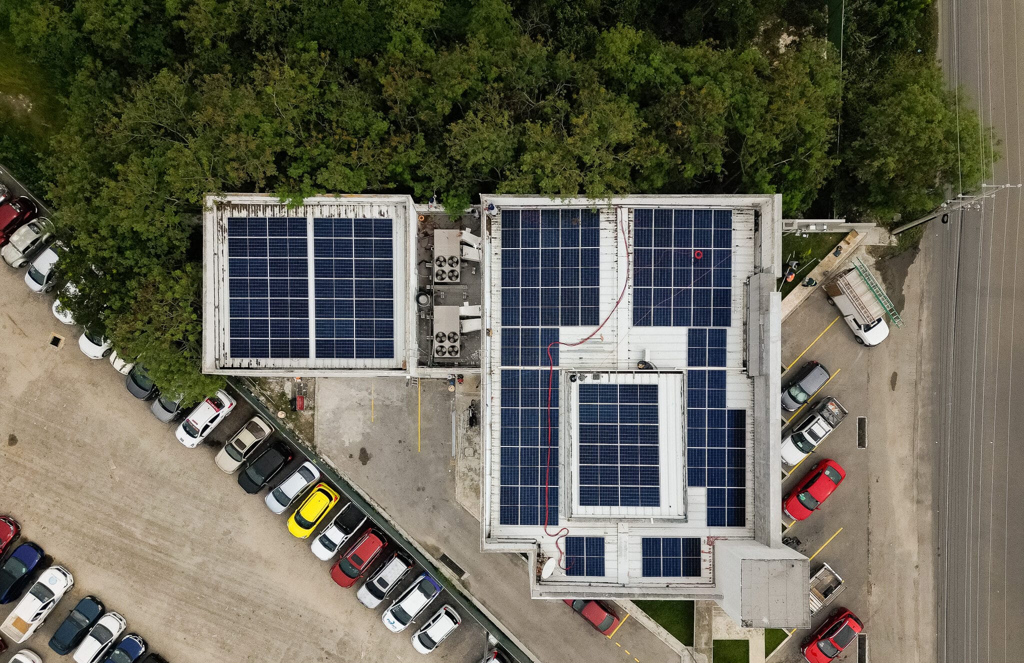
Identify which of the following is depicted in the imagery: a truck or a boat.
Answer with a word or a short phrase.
truck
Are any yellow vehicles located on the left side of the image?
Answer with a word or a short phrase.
Yes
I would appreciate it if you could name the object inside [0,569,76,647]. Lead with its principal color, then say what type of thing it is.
white truck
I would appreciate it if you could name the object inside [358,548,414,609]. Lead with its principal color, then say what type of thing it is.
white car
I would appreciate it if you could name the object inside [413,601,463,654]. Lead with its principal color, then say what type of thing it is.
white car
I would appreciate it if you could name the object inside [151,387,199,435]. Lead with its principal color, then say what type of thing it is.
gray car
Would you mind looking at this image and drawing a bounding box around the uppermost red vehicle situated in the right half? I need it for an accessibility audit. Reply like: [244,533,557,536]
[785,459,844,520]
